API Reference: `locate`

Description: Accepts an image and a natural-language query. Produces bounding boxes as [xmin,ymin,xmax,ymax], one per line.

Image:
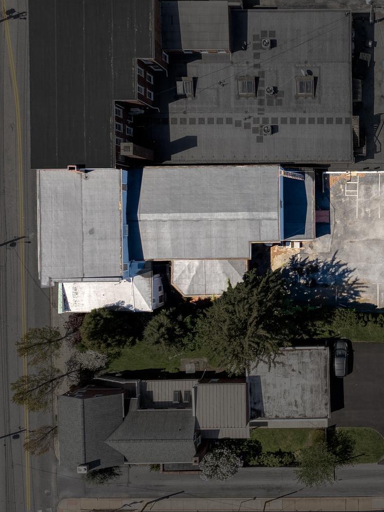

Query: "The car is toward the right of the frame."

[331,338,351,377]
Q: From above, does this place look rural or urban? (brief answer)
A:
urban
